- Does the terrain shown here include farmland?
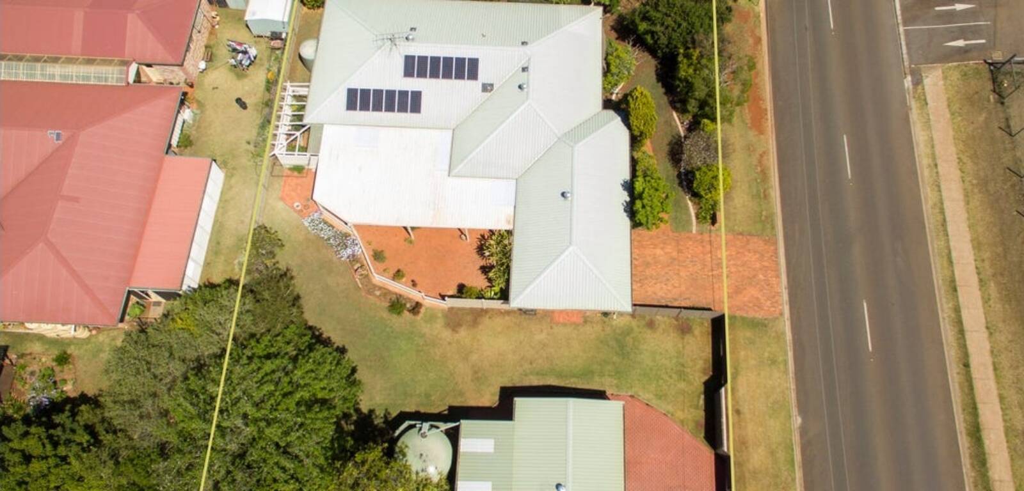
No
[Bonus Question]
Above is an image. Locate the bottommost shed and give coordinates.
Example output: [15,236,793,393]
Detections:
[454,397,627,491]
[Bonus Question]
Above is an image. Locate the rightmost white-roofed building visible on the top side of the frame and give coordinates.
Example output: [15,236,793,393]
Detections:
[304,0,633,314]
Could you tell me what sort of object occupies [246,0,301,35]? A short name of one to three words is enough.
shed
